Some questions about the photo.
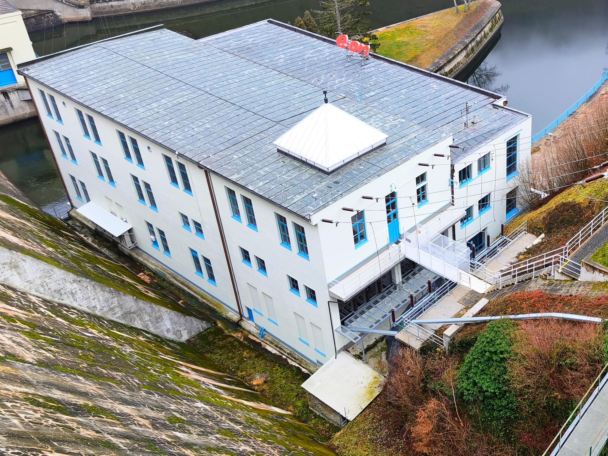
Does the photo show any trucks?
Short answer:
No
